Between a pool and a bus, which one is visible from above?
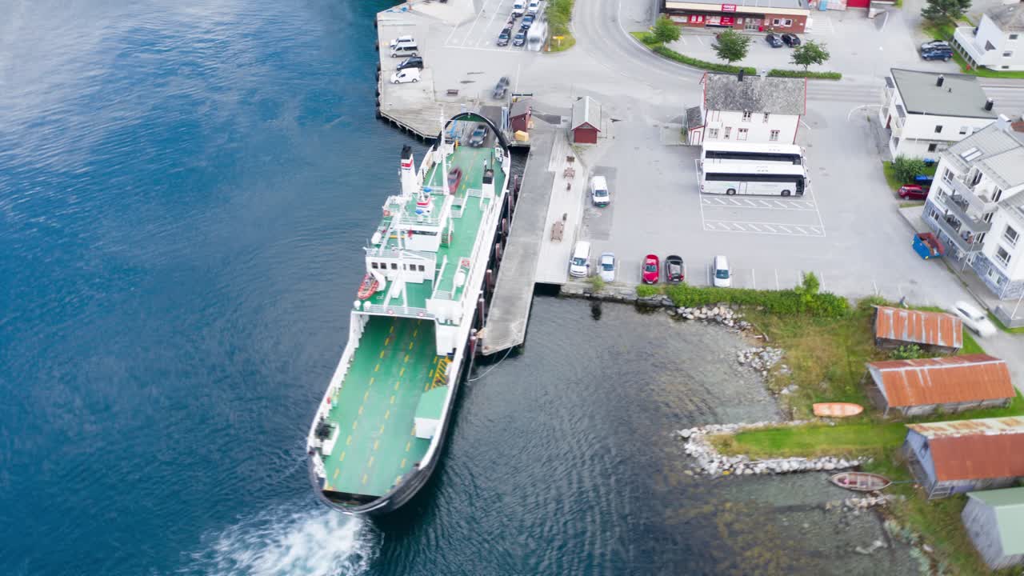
bus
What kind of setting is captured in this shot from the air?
port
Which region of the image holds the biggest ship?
center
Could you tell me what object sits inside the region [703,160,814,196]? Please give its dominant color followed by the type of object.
white bus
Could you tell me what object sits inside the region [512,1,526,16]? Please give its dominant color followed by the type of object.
white car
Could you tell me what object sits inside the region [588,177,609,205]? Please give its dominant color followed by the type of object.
white vehicle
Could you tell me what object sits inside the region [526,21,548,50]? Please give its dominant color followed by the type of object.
white camper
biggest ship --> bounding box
[308,105,509,522]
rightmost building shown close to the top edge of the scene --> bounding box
[941,2,1024,68]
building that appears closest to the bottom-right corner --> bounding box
[960,486,1024,564]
